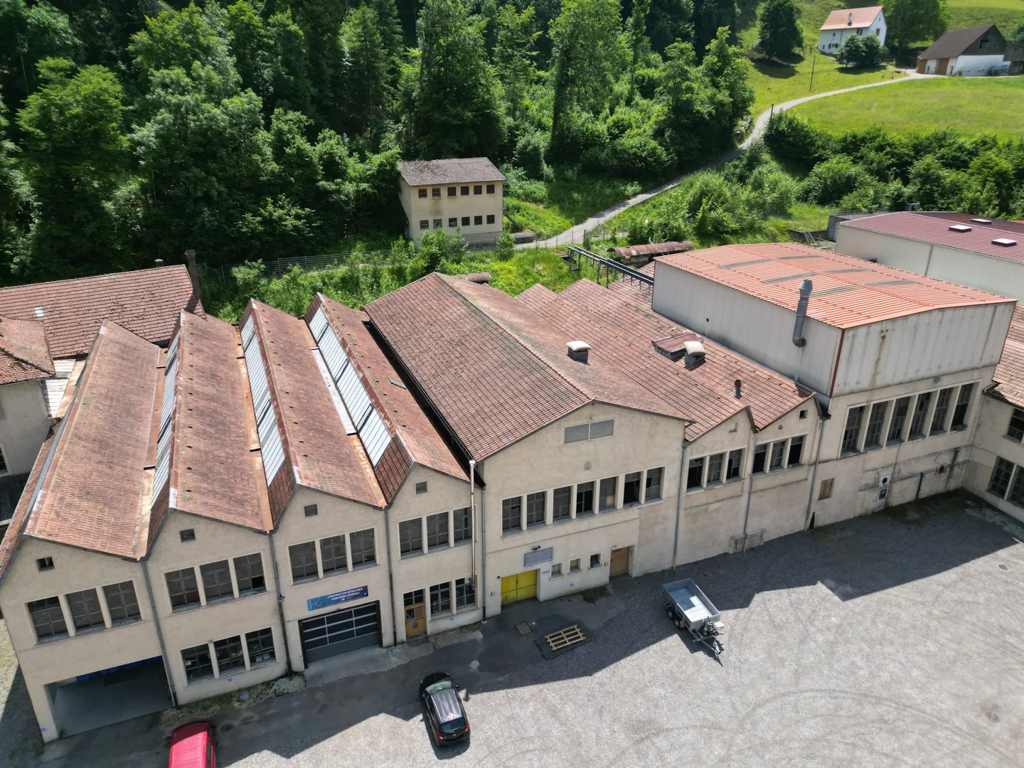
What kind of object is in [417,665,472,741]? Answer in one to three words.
car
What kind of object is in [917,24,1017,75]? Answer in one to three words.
barn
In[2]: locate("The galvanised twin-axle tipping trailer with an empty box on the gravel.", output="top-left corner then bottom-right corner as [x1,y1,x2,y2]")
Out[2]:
[661,578,727,663]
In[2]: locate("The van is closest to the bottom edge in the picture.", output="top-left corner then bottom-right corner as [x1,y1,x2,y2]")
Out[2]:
[163,712,220,768]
